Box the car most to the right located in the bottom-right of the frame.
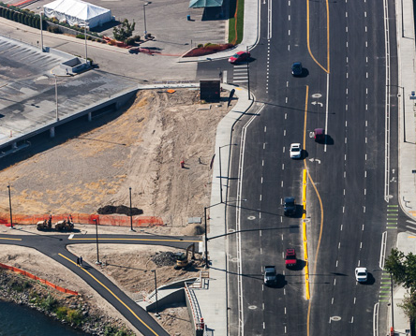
[355,270,368,282]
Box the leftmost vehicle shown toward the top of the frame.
[228,52,250,64]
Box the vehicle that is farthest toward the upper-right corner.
[291,60,303,76]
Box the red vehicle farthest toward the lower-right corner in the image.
[283,249,297,266]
